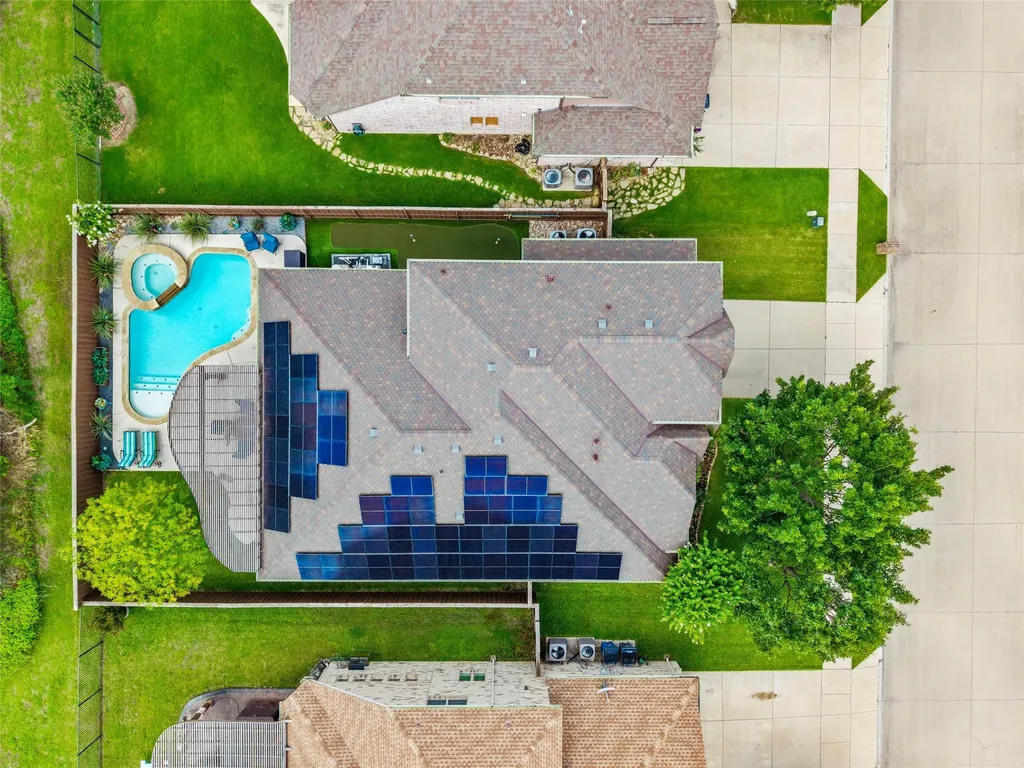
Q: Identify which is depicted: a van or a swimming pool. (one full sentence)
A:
Of the two, only a swimming pool appears.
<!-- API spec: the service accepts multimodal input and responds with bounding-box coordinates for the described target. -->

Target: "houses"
[256,238,734,583]
[286,0,718,170]
[277,659,704,768]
